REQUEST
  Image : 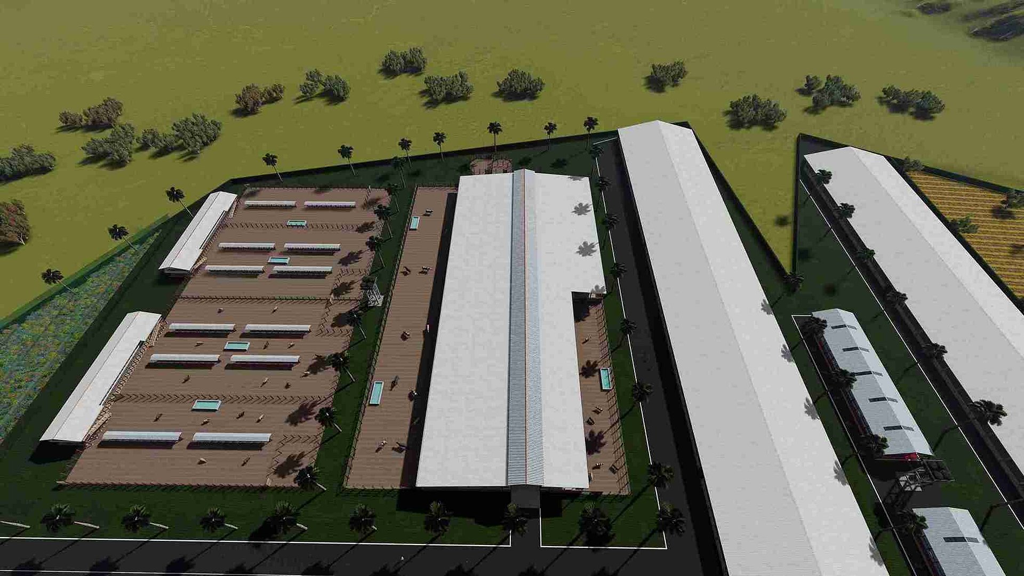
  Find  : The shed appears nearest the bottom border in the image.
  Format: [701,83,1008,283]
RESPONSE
[913,506,1004,576]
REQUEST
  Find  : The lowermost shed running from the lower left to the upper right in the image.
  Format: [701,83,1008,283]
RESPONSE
[42,312,163,445]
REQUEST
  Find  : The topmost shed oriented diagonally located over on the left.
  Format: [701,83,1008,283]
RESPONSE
[161,192,238,275]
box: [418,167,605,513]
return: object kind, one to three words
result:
barn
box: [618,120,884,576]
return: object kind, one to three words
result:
barn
